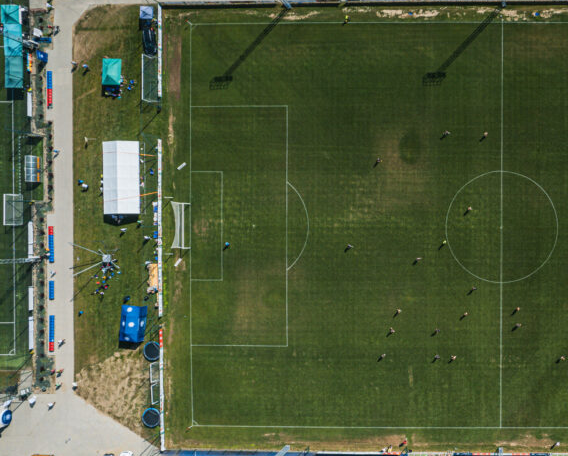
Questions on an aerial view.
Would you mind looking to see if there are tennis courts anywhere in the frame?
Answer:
No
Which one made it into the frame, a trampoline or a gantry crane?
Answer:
trampoline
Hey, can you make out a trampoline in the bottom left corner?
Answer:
Yes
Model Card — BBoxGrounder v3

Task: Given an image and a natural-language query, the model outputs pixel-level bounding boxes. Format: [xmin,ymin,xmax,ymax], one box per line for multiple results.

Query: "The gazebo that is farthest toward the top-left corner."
[1,7,27,28]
